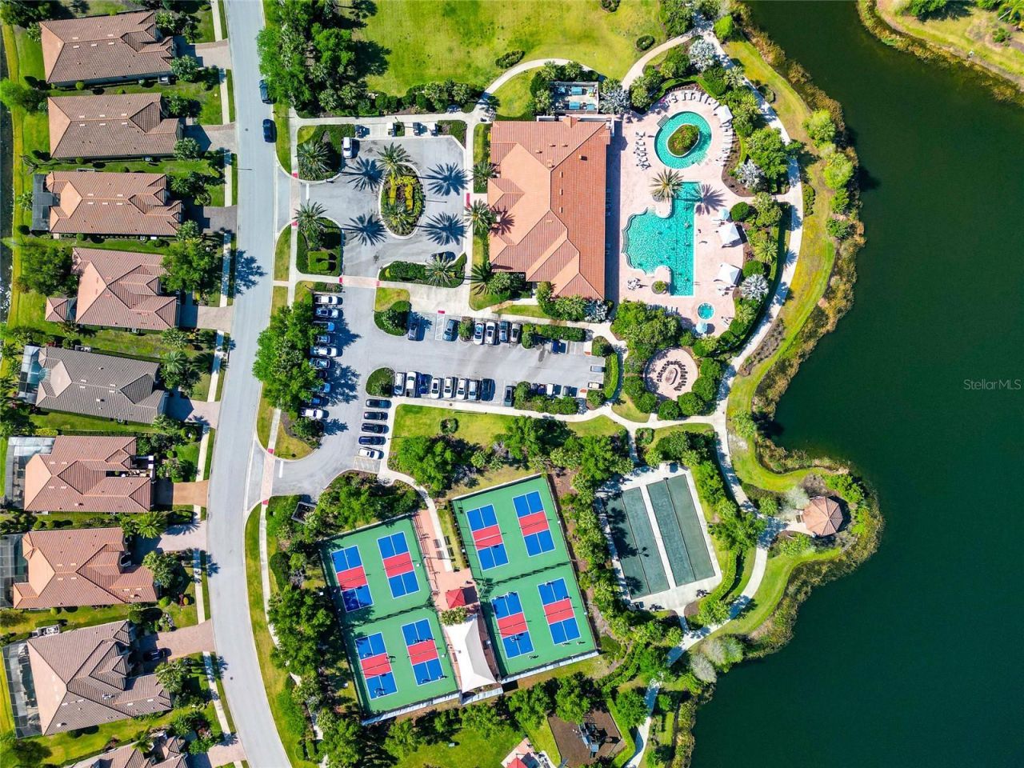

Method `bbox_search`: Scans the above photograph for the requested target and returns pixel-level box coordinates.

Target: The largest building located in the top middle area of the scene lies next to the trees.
[487,112,613,300]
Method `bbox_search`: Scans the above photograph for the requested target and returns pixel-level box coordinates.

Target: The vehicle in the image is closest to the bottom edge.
[144,647,167,660]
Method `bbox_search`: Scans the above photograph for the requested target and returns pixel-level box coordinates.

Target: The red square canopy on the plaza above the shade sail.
[445,585,467,610]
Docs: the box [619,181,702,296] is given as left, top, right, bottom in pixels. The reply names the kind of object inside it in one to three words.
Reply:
swimming pool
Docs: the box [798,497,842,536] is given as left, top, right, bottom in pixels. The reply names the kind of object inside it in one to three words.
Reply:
gazebo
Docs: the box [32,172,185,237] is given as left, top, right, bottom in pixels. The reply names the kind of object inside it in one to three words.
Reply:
house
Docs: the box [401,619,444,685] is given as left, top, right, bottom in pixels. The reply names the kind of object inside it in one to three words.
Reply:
sports court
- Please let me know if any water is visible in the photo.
Yes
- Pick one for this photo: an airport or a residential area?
residential area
